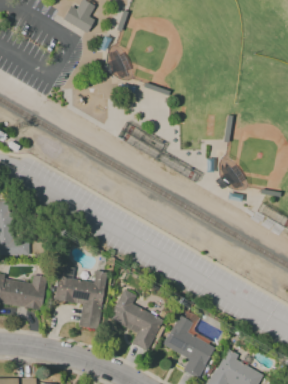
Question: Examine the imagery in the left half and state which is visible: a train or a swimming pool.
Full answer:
What appears in the left half is a swimming pool.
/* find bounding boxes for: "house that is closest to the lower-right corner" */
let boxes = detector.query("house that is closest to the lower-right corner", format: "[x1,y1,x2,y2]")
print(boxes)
[205,346,264,384]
